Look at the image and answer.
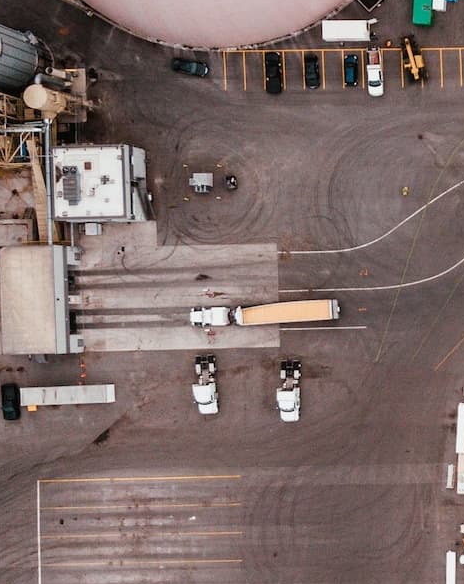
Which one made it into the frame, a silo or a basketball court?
silo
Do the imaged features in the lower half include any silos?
No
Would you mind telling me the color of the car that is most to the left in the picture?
black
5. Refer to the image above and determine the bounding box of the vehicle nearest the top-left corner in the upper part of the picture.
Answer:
[170,55,211,77]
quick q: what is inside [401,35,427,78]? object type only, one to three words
work vehicle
